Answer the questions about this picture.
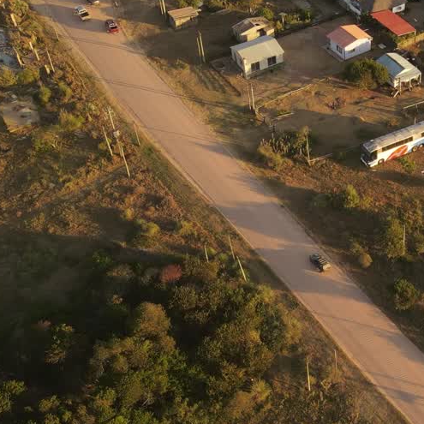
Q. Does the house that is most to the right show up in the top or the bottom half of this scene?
top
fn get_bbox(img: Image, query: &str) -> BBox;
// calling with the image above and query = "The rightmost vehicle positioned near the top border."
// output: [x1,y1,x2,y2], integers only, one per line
[104,17,121,32]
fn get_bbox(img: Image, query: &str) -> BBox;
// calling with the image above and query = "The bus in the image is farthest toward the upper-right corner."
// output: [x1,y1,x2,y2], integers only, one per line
[361,123,424,165]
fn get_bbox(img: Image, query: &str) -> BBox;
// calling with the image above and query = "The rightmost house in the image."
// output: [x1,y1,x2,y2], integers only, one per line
[379,50,423,106]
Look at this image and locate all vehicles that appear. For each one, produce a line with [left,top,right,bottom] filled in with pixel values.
[72,5,91,20]
[308,251,334,273]
[361,123,424,165]
[89,0,102,5]
[104,17,121,32]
